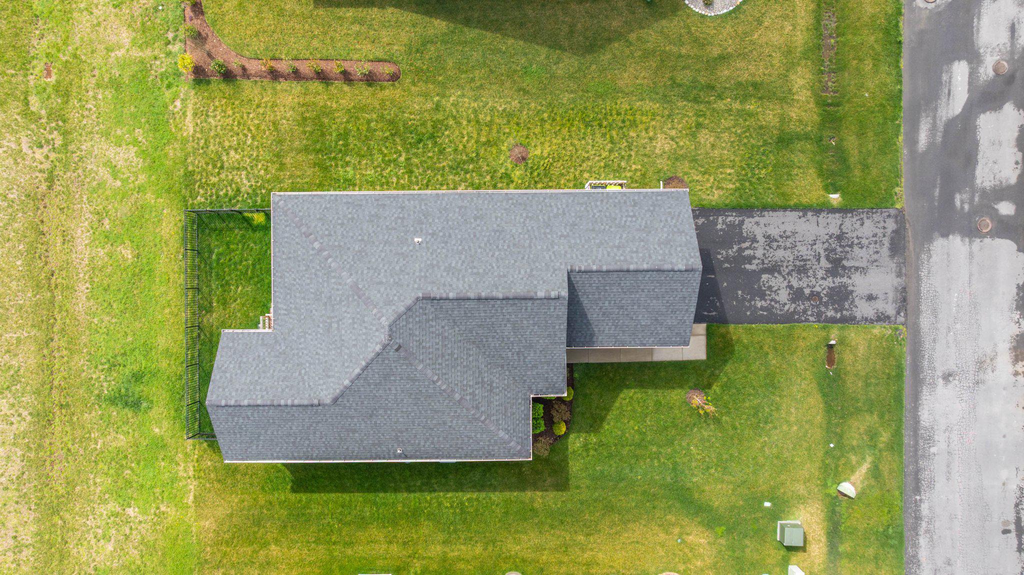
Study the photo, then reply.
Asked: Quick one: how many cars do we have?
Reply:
none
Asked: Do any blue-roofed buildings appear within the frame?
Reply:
No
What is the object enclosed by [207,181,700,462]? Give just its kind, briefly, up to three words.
house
